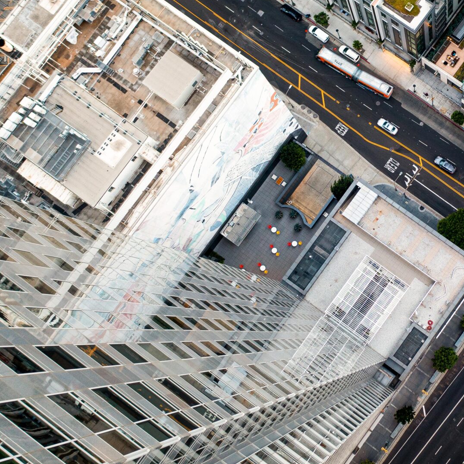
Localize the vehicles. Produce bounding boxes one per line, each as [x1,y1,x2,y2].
[339,44,361,63]
[314,41,395,97]
[376,118,399,136]
[279,4,303,23]
[434,155,458,176]
[308,25,331,44]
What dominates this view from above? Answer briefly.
buildings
